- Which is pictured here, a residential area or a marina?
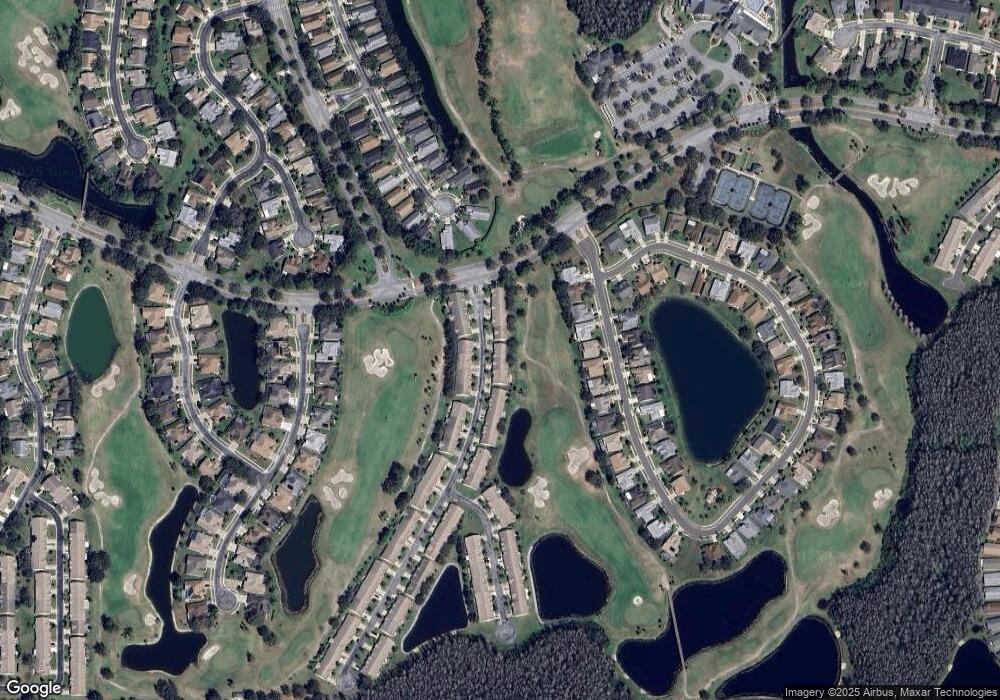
residential area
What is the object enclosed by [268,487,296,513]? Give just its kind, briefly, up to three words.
house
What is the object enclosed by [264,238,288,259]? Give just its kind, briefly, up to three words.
house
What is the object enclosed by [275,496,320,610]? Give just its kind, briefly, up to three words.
pond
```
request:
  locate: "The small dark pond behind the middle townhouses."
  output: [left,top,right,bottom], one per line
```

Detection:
[499,408,532,485]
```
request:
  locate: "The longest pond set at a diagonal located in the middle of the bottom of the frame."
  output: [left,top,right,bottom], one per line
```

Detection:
[403,565,467,651]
